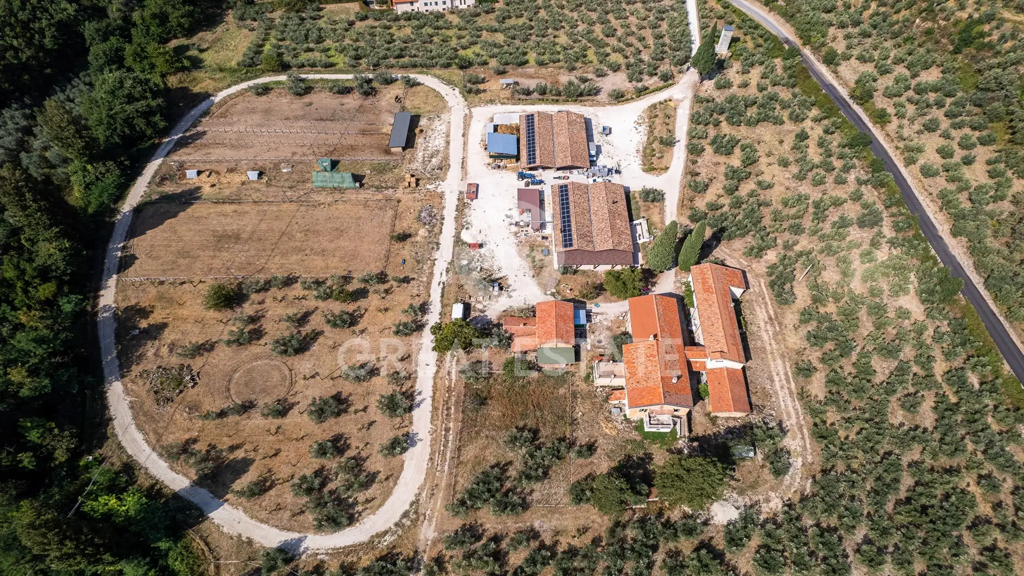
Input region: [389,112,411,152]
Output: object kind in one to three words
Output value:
building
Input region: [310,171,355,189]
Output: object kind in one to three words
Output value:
greenhouse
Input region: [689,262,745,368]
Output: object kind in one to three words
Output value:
house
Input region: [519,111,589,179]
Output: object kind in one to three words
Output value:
barn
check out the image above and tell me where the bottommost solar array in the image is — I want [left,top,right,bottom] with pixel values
[557,184,571,247]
